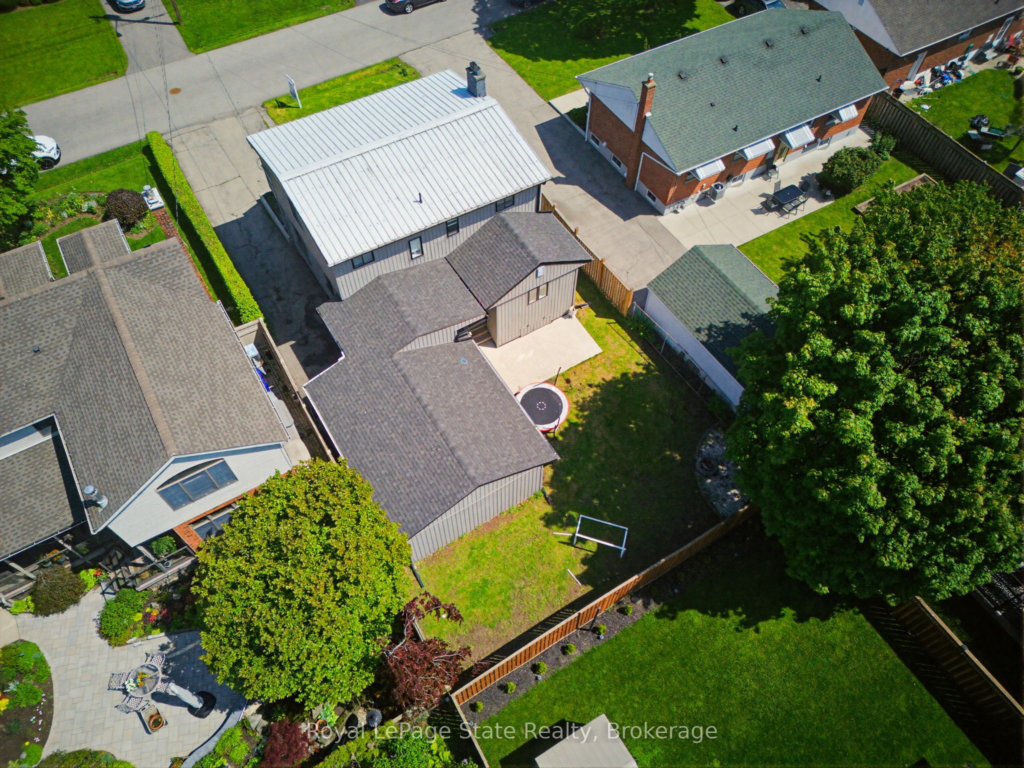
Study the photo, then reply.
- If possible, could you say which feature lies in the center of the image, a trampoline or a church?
trampoline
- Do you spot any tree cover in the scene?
Yes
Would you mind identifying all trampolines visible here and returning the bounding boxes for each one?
[516,369,571,432]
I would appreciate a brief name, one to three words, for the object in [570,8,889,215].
house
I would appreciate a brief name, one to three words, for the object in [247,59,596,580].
house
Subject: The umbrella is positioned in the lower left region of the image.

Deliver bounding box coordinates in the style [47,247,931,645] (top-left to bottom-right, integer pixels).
[176,681,216,720]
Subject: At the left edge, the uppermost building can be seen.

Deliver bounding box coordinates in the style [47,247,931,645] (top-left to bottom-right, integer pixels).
[0,185,300,599]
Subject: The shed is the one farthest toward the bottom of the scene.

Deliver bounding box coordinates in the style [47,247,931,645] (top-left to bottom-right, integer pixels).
[534,714,638,768]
